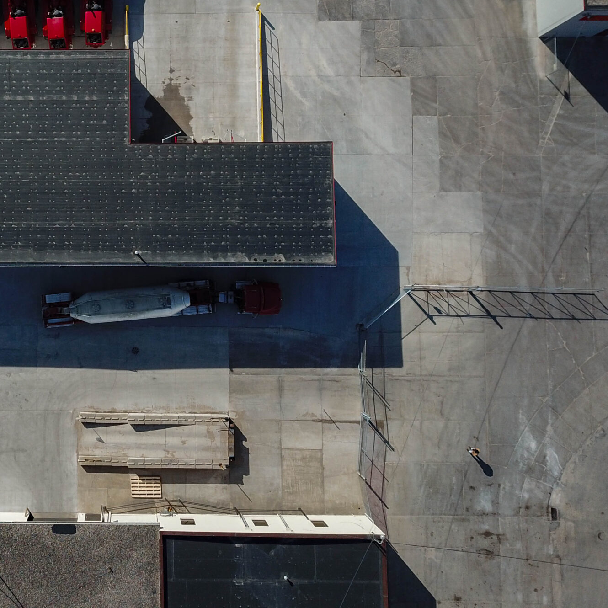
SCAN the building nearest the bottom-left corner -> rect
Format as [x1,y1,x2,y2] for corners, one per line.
[0,498,162,608]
